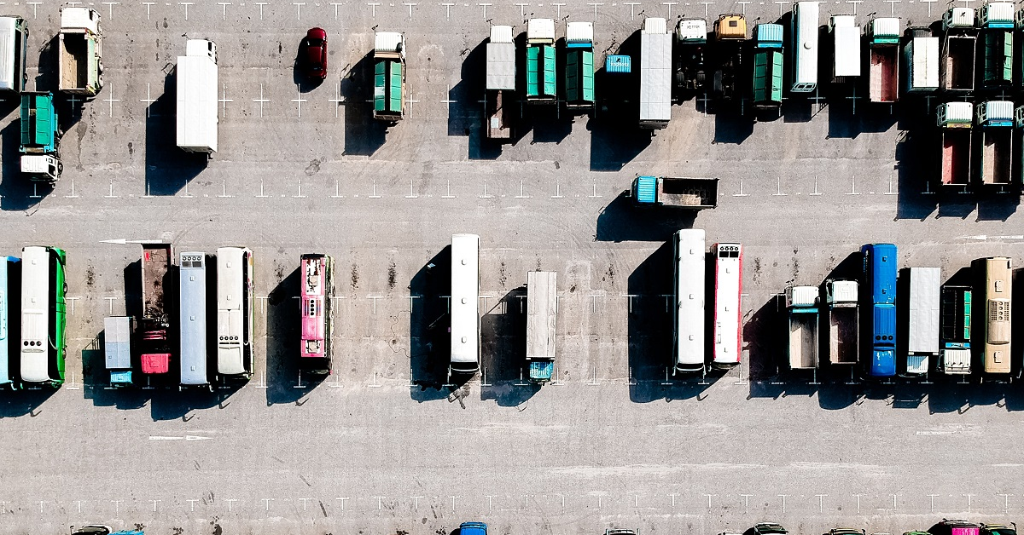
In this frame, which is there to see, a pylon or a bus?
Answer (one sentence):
I can see a bus in this picture.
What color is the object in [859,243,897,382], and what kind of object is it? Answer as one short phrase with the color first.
blue bus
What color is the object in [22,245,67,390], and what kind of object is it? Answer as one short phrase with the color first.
white bus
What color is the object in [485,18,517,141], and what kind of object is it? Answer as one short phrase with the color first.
white truck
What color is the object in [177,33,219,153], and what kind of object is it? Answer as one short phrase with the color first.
white truck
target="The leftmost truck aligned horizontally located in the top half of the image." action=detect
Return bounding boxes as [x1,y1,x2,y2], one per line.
[629,173,718,210]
